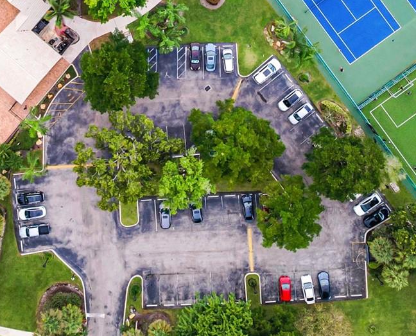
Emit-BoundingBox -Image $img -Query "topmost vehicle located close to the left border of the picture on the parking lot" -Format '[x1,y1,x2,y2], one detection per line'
[17,192,45,205]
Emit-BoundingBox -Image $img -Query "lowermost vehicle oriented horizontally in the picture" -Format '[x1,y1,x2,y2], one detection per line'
[18,223,50,238]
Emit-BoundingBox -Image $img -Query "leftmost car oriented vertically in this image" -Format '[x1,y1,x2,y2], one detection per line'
[158,201,171,229]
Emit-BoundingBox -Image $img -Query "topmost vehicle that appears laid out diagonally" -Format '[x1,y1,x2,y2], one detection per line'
[253,59,281,83]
